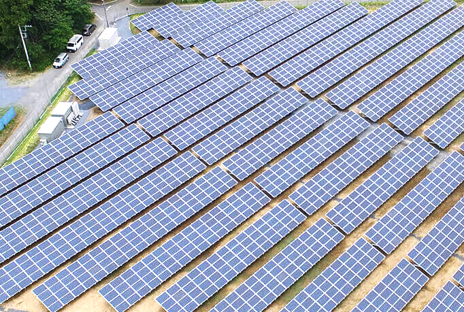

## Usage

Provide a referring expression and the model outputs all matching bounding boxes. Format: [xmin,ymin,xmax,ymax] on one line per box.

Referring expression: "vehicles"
[51,50,71,66]
[83,23,99,37]
[66,32,86,51]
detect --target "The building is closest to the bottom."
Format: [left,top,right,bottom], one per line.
[38,116,65,147]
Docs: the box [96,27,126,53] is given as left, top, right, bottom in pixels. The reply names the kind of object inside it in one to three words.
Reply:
building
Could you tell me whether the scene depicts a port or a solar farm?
solar farm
